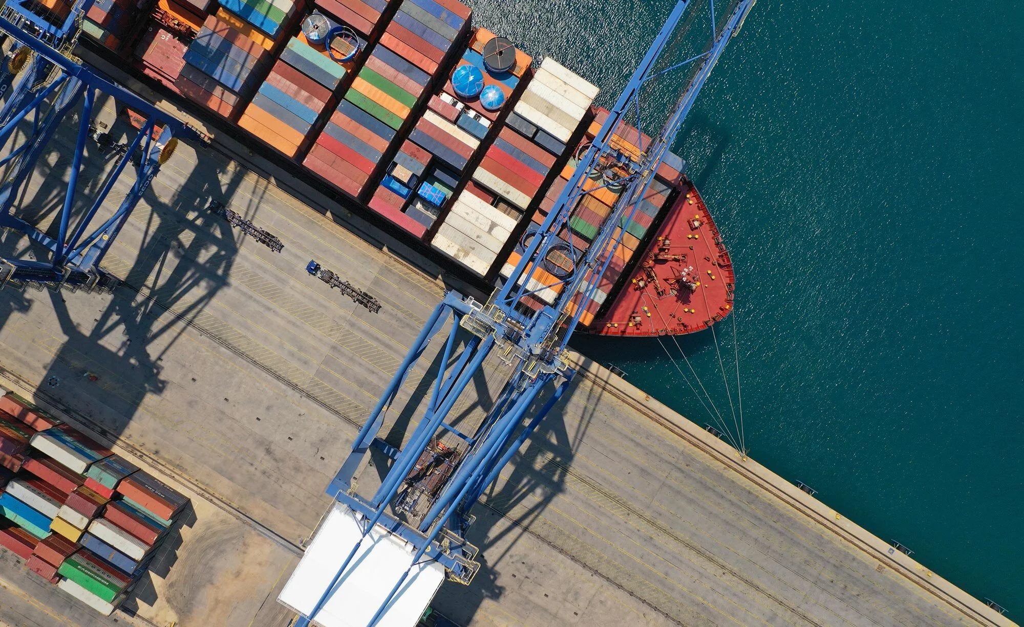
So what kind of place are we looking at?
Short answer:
port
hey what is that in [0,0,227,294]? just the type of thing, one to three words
container crane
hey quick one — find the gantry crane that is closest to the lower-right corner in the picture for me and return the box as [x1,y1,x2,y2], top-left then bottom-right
[271,0,759,627]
